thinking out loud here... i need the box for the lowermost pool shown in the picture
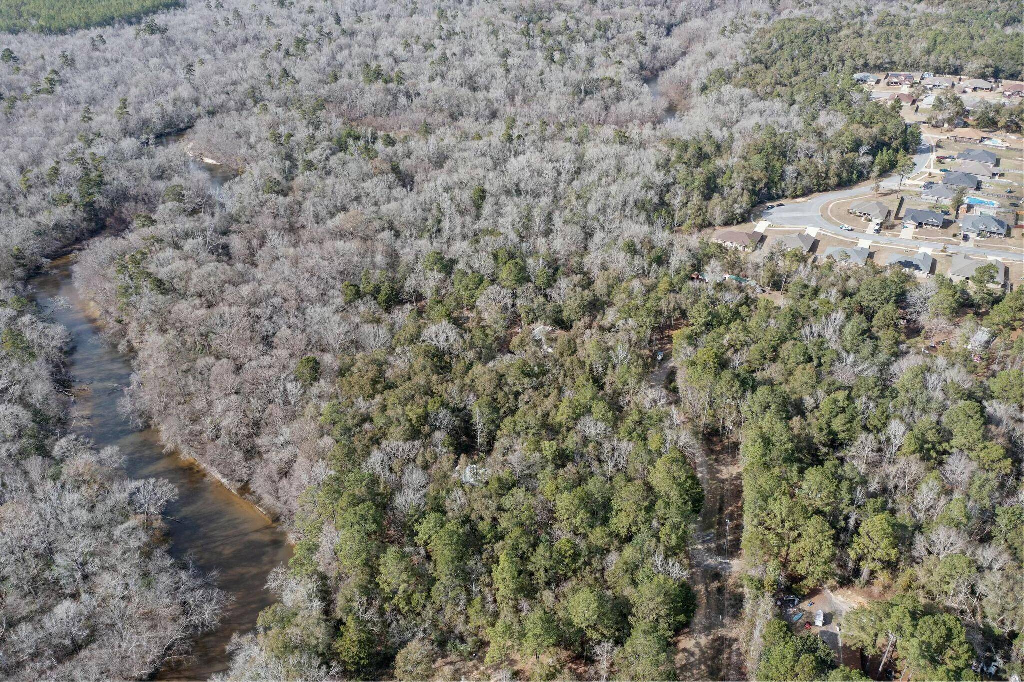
[962,195,1001,207]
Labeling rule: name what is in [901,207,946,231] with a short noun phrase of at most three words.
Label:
house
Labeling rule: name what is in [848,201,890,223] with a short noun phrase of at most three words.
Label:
house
